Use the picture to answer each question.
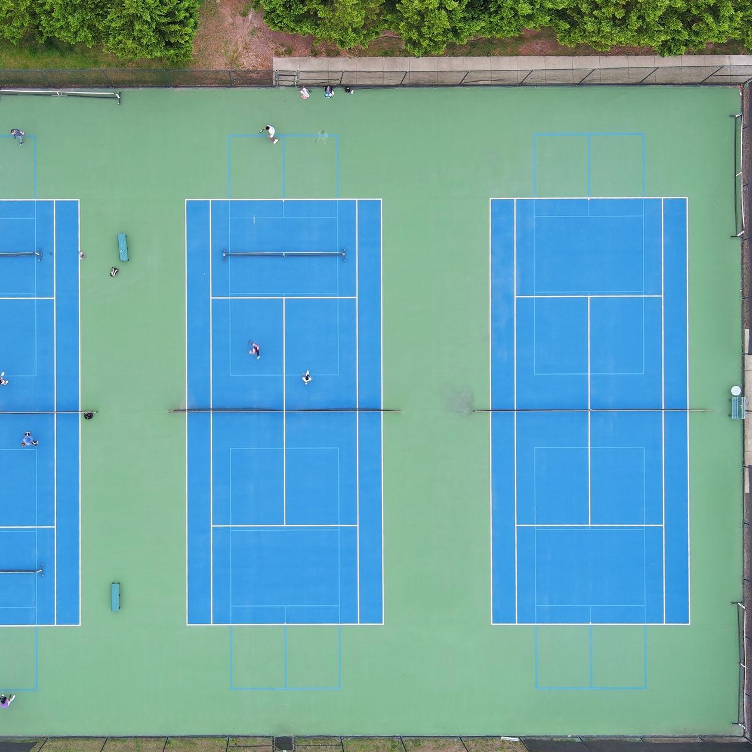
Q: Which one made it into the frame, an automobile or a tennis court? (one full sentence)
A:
The image shows a tennis court.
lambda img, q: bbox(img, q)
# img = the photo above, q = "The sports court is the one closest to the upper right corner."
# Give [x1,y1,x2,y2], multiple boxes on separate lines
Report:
[534,134,645,375]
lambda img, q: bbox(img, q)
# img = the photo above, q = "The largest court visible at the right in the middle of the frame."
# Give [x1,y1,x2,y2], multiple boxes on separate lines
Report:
[491,197,689,624]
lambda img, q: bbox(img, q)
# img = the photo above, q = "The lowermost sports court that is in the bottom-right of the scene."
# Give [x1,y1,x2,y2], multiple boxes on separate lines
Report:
[535,448,646,688]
